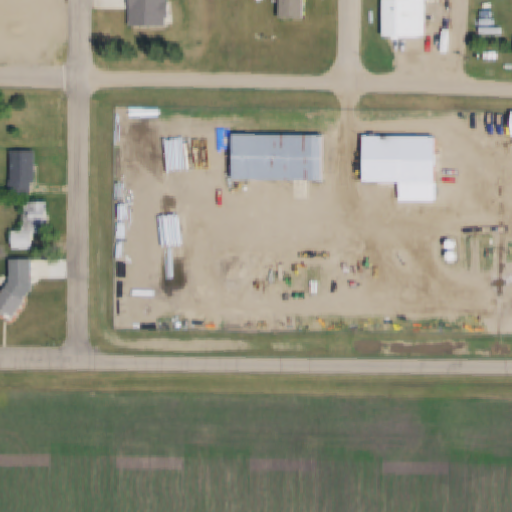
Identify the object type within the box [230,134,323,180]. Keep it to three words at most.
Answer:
building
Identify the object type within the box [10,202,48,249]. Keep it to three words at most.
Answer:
house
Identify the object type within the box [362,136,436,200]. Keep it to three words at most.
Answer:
building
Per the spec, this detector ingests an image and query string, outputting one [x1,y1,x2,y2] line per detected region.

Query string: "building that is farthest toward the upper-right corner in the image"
[382,0,426,37]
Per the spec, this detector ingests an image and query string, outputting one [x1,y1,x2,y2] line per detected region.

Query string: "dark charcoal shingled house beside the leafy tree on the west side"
[8,150,34,192]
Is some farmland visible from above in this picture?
Yes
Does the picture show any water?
No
